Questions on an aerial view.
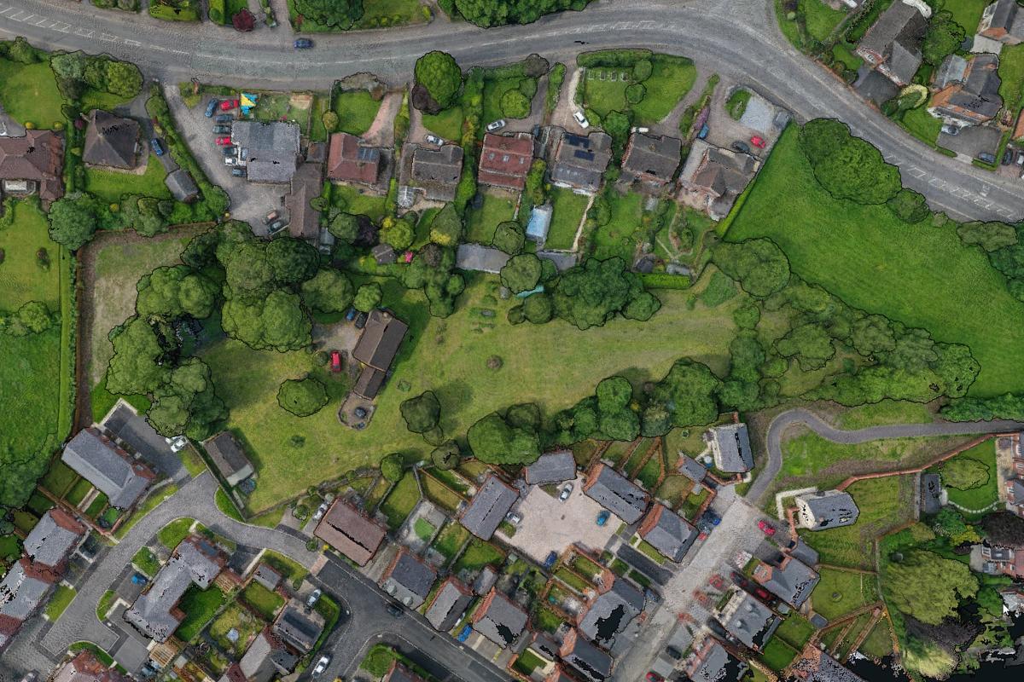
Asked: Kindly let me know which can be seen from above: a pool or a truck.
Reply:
pool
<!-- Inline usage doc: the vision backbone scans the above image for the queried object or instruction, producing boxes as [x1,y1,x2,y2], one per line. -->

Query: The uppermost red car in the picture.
[220,97,240,110]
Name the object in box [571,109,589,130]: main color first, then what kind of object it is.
white car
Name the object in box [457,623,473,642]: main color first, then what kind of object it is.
blue car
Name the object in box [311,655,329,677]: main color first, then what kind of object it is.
white car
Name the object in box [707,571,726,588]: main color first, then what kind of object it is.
red car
